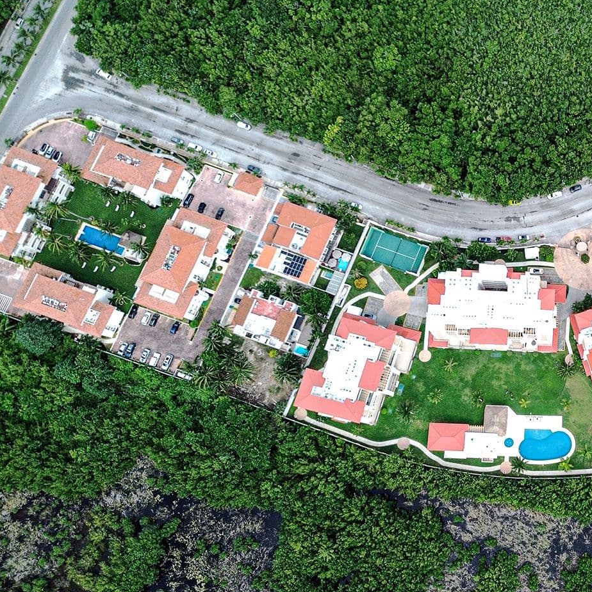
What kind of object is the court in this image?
tennis court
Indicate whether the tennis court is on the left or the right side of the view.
right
